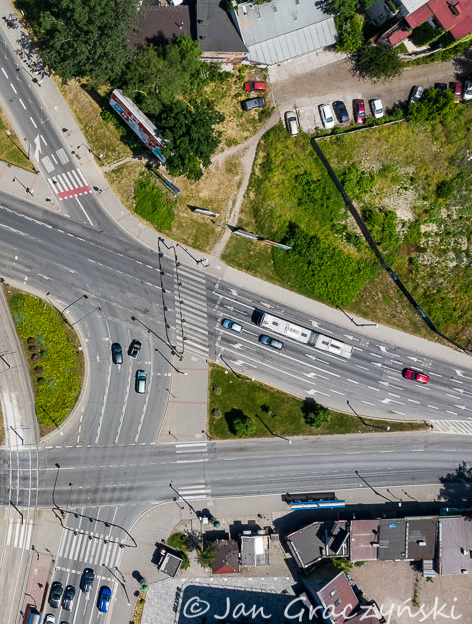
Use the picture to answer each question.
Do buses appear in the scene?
Yes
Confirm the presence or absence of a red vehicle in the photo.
Yes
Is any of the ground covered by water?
No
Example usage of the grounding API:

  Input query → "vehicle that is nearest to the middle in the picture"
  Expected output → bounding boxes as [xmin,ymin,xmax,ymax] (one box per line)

[220,318,243,333]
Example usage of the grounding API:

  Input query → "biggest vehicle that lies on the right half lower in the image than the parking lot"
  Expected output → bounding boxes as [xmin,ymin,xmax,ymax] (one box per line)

[249,304,357,359]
